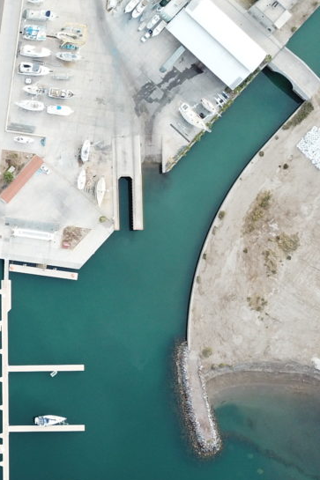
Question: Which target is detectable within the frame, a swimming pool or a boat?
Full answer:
It is a boat that can be seen here.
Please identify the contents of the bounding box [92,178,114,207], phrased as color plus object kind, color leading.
white boat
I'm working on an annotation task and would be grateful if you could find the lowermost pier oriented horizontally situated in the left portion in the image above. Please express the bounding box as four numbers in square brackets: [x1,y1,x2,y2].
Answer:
[9,260,78,280]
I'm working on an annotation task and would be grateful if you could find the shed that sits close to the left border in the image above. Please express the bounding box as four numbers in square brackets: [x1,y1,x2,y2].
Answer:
[0,154,44,205]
